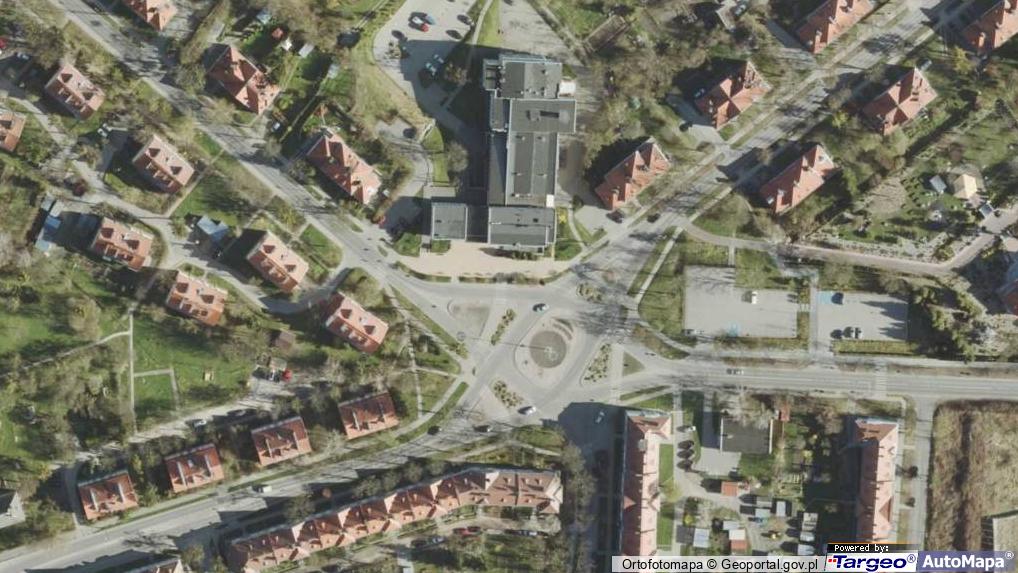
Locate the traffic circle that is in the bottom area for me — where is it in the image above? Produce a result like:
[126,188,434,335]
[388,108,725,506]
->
[515,310,581,387]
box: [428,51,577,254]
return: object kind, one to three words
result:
building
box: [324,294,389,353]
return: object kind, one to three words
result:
house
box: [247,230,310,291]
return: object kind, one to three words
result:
house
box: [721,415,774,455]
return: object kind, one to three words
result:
building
